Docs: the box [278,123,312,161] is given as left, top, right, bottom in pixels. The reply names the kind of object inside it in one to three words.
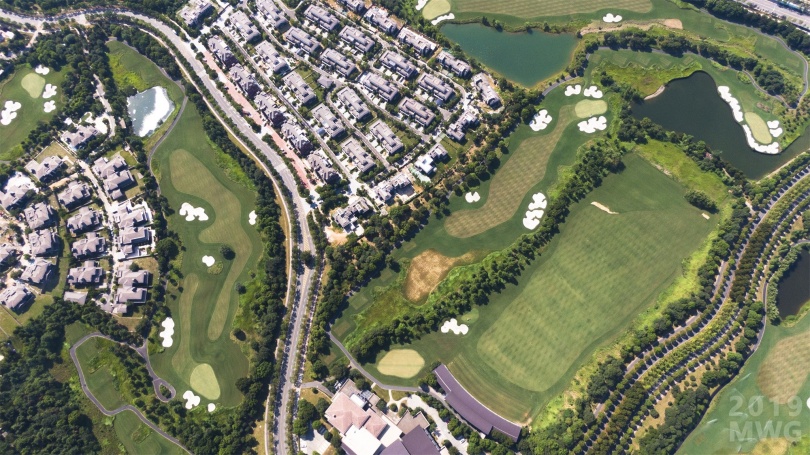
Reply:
house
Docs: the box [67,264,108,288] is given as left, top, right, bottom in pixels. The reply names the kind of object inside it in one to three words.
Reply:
house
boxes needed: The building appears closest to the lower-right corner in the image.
[433,363,521,443]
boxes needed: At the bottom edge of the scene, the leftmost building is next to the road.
[322,378,442,455]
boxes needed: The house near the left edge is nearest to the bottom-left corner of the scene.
[1,283,35,317]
